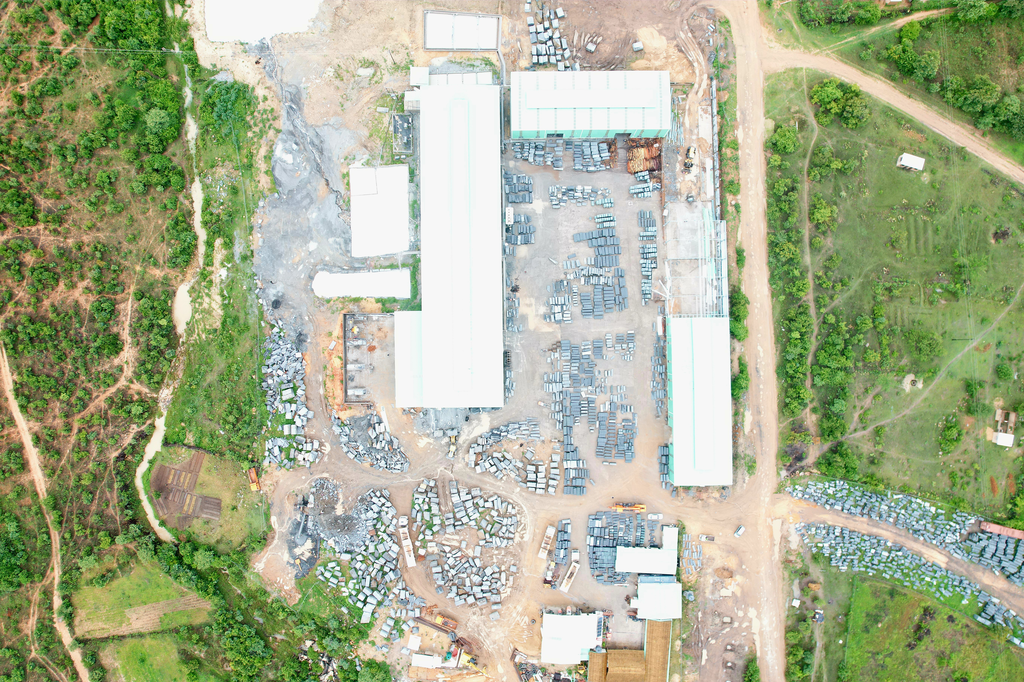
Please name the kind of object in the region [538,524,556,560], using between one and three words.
vehicle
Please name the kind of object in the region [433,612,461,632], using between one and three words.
vehicle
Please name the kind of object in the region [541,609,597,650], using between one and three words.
shed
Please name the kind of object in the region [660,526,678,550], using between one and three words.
building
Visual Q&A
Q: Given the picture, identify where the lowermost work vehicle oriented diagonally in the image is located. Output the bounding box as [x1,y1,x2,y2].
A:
[458,648,491,675]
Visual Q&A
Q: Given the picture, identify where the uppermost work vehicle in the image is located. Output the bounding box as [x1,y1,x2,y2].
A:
[683,145,695,172]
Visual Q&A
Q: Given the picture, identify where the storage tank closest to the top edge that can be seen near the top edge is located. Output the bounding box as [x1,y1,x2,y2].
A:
[424,11,500,51]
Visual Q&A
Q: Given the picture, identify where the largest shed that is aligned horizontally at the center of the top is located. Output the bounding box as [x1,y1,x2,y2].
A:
[511,71,671,138]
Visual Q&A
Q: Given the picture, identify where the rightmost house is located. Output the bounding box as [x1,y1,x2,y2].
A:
[986,409,1017,447]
